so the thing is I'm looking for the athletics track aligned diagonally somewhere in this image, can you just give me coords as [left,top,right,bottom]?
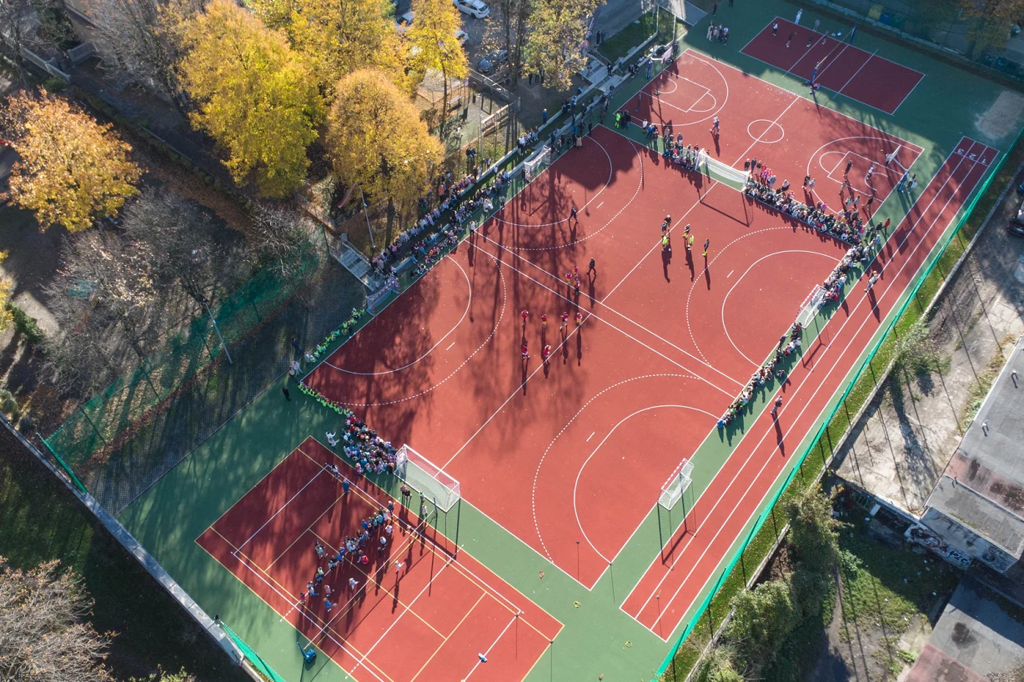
[621,137,999,640]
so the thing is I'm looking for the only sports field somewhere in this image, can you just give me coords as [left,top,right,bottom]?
[302,124,851,590]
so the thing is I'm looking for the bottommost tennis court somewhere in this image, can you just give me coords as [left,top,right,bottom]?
[196,437,563,682]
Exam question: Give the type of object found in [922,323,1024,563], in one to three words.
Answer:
building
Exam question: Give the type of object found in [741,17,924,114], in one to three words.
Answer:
sports court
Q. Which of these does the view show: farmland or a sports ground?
sports ground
